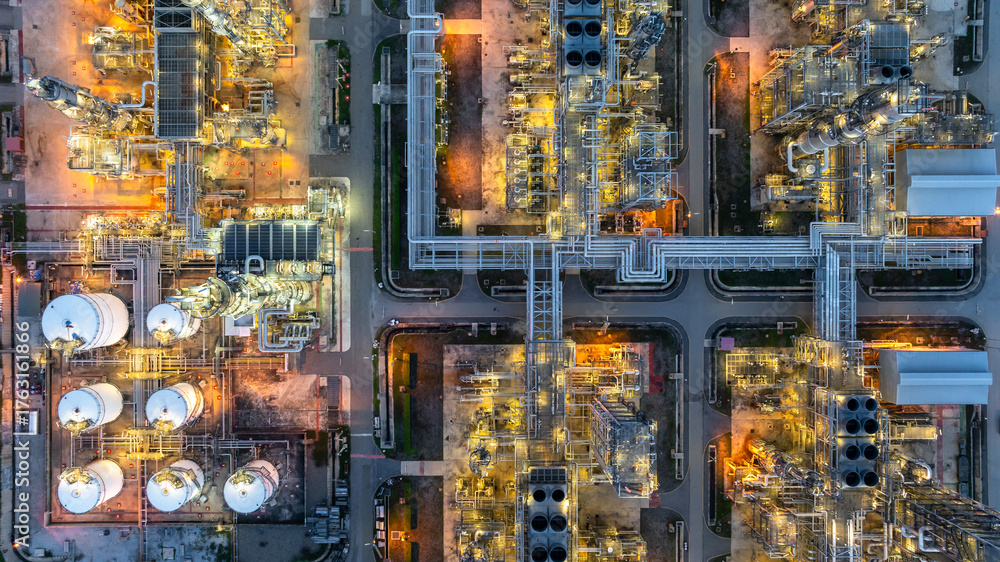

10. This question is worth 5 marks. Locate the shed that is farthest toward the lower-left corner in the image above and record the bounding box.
[27,411,41,435]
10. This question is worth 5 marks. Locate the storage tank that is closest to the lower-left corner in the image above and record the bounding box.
[57,458,126,514]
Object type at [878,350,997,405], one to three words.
building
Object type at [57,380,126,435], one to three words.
storage tank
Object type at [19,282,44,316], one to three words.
building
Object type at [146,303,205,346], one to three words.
storage tank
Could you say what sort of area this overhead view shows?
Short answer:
industrial area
